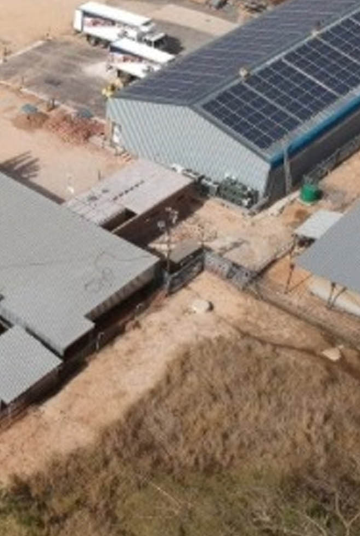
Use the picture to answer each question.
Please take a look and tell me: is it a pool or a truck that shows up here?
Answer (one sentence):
Visible in the photo is a truck.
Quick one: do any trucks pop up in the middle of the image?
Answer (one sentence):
No, looking in the middle of the image, there is no truck.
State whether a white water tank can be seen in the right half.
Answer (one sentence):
No, no white water tank is visible in the right half.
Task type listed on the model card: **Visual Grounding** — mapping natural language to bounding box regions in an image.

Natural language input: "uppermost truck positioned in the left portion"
[84,2,170,53]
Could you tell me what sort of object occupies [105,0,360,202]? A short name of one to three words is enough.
warehouse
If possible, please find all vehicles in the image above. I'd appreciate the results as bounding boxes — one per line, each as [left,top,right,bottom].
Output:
[84,2,170,53]
[105,37,176,79]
